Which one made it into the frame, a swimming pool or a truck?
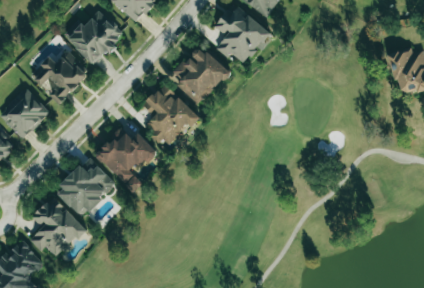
swimming pool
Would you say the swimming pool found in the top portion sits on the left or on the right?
left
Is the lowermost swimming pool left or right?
left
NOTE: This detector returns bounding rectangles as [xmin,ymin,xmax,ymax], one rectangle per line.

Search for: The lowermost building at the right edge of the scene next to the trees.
[386,46,424,96]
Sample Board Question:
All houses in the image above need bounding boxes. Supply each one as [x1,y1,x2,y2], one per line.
[36,50,86,106]
[386,46,424,96]
[146,85,199,148]
[214,4,272,66]
[96,128,155,186]
[0,242,42,288]
[30,203,85,259]
[0,86,46,138]
[113,0,156,22]
[65,14,121,64]
[172,46,230,104]
[58,158,113,216]
[242,0,278,18]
